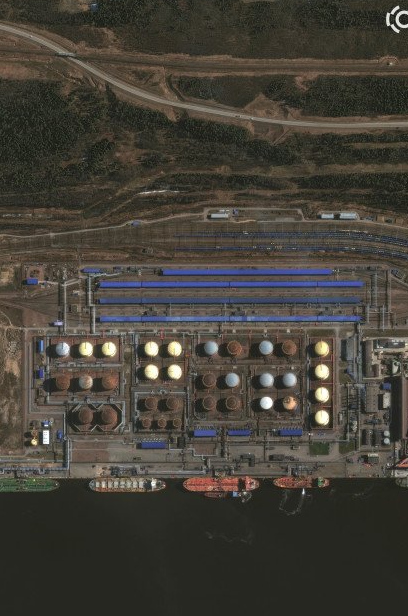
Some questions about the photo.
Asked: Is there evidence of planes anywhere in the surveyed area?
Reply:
No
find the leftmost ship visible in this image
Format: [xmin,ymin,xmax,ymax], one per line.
[0,477,59,492]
